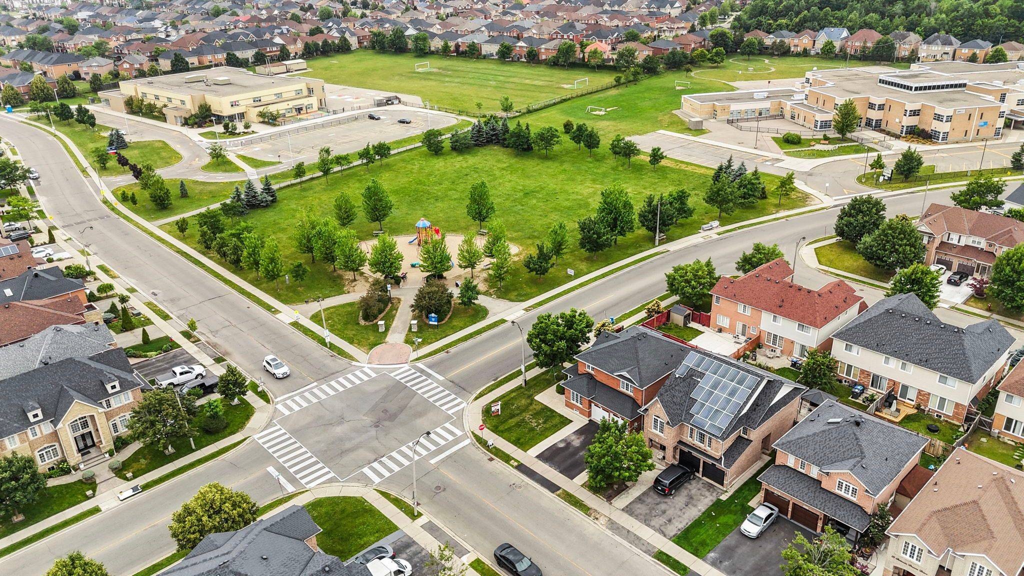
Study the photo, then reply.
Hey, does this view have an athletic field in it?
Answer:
Yes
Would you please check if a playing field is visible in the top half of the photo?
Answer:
Yes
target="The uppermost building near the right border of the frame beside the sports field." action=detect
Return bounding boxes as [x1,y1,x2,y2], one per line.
[681,61,1024,142]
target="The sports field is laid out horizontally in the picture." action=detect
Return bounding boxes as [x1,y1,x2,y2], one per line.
[283,50,620,115]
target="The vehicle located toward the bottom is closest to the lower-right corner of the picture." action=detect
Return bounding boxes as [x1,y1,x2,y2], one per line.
[742,502,781,537]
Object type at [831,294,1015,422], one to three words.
house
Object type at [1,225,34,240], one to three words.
car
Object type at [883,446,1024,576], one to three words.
house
